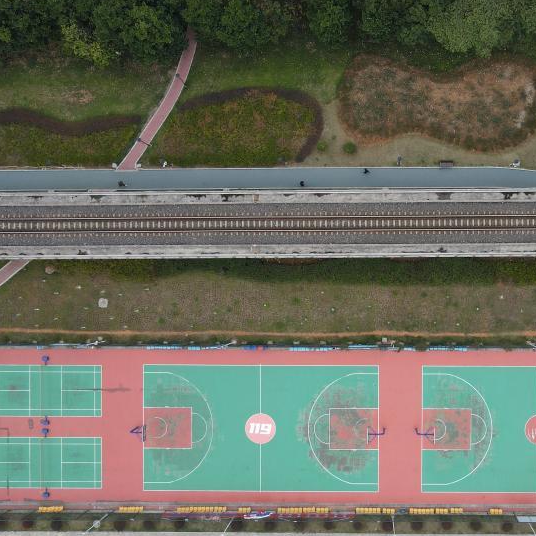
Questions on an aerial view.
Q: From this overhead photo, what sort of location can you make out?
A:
sports ground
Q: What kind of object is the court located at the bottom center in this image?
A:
basketball court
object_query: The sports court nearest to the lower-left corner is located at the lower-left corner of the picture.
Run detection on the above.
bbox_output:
[0,437,102,488]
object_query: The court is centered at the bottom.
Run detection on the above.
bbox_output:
[143,364,379,492]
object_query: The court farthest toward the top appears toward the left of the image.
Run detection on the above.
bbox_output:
[0,365,102,417]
